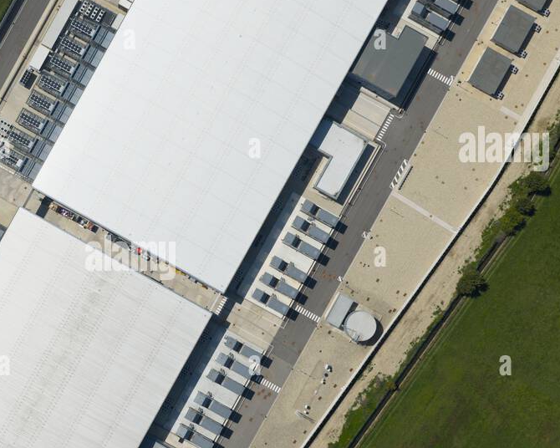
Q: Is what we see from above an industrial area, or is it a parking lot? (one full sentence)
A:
The picture captures an industrial area.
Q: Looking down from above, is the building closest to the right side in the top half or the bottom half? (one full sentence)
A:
The building closest to the right side sits in the top half of the picture.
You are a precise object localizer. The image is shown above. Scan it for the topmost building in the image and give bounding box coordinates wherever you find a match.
[42,0,80,49]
